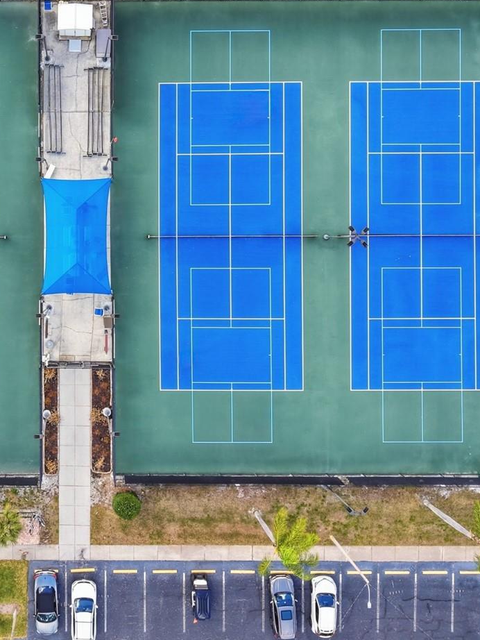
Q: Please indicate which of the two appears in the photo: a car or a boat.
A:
car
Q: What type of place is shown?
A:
sports ground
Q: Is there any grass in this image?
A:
Yes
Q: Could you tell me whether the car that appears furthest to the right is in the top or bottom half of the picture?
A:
bottom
